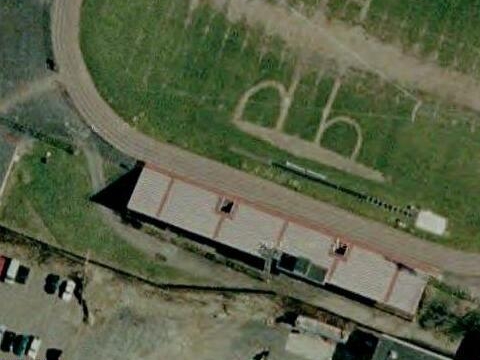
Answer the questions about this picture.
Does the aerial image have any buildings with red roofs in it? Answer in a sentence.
No, there is no building with a red roof in the image.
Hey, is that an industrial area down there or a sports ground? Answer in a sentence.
This image shows a sports ground.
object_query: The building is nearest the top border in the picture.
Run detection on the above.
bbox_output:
[297,316,342,345]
